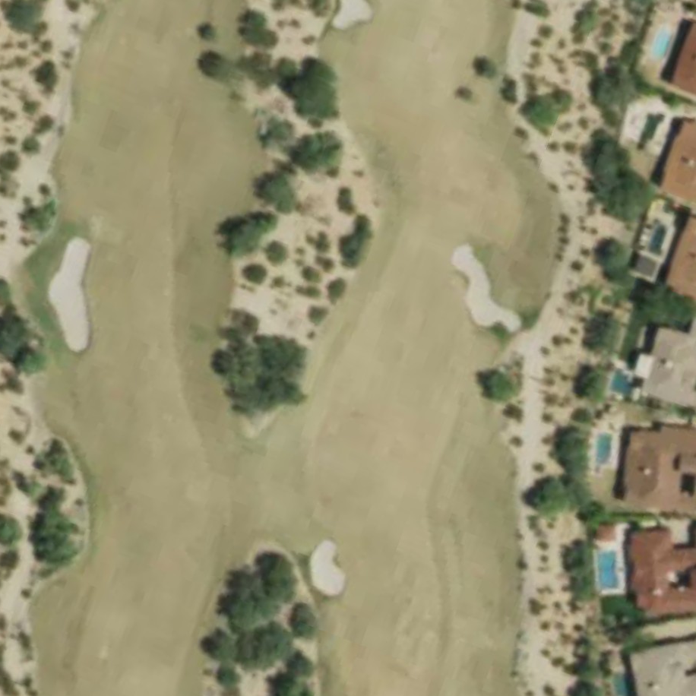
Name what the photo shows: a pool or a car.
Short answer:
pool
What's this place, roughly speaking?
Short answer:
golf course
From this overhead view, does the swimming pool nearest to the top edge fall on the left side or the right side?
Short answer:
right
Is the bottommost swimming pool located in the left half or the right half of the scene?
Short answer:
right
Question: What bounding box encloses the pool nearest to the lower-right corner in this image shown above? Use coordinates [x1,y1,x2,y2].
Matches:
[607,667,634,696]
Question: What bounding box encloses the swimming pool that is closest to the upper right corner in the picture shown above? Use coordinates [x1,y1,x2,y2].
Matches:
[645,13,684,70]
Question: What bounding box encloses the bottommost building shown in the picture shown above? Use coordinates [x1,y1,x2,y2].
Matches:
[632,643,696,696]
